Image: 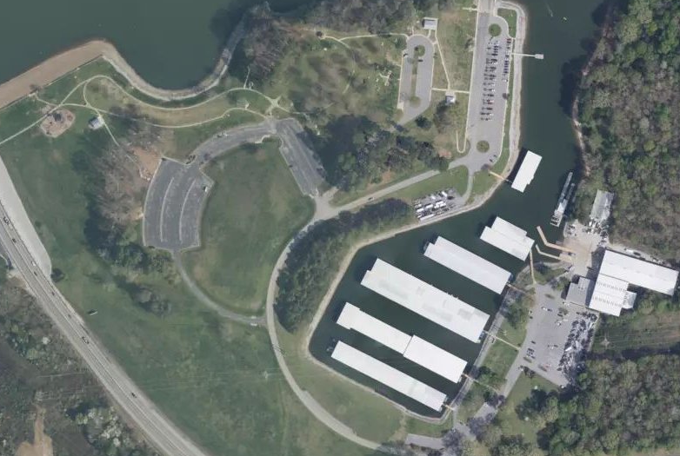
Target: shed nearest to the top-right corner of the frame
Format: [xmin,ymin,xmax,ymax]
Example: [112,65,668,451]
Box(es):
[591,190,614,223]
